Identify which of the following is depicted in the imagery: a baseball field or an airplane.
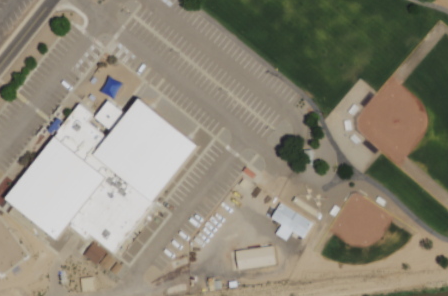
baseball field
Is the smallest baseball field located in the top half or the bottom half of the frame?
bottom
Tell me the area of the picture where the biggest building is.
left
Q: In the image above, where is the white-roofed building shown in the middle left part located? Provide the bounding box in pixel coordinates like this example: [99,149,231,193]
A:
[5,98,198,254]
